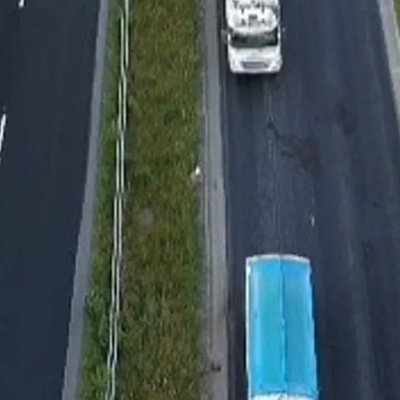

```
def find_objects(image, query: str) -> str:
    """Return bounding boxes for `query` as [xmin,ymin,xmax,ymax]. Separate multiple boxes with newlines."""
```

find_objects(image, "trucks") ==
[244,257,320,400]
[225,0,291,72]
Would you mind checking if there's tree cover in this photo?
No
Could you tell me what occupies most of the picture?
paved ground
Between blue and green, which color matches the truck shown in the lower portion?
blue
